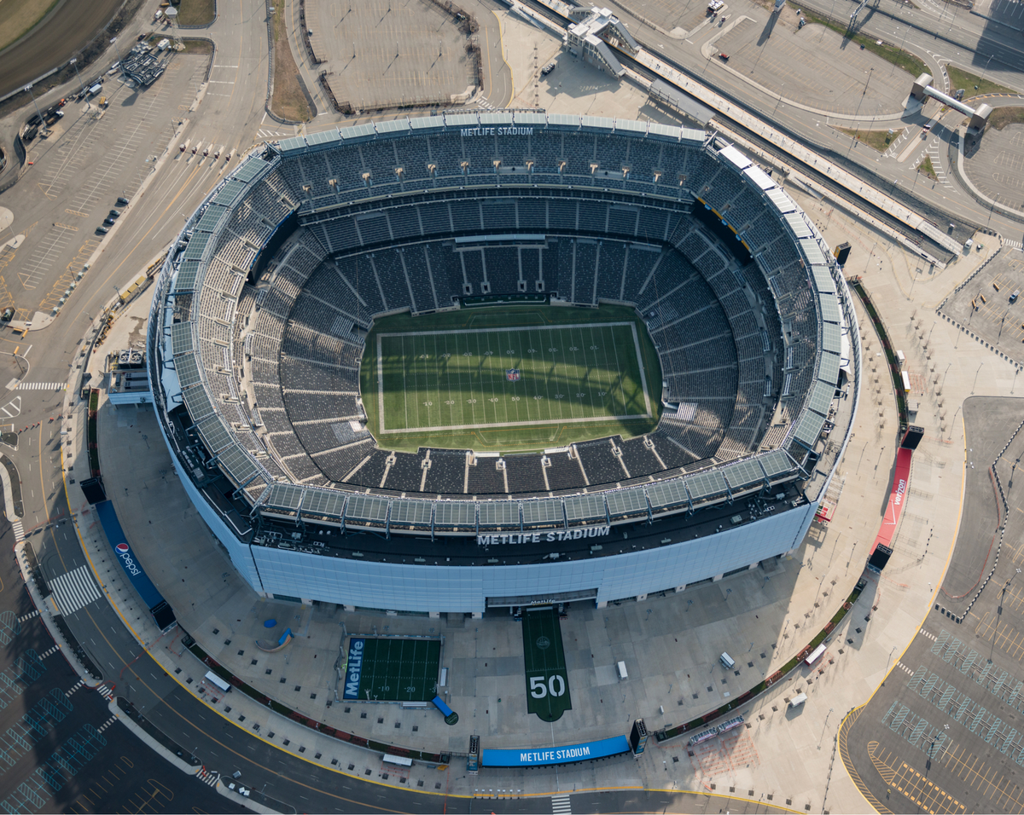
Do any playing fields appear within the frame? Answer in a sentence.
Yes, there's a playing field down there.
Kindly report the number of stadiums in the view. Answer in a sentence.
The picture shows 1 stadium.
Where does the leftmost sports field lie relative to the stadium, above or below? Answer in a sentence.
The leftmost sports field is below the stadium.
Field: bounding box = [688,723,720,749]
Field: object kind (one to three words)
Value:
car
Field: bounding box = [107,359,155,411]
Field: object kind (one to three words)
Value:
building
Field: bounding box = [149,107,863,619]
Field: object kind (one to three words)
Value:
stadium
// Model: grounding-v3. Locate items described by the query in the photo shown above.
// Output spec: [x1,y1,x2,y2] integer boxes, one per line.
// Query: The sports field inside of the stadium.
[381,324,648,429]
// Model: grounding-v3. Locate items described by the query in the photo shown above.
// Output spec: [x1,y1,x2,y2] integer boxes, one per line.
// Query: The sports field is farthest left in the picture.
[342,637,441,701]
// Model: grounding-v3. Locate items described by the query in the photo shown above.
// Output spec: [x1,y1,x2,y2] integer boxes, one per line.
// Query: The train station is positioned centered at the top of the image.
[561,6,644,80]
